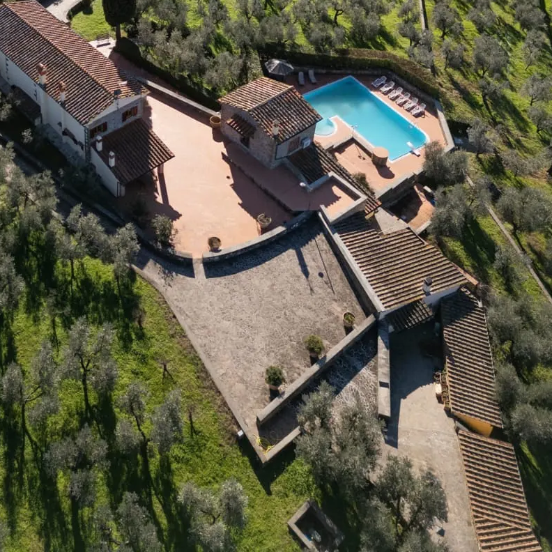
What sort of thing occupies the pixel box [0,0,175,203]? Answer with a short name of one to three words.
house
